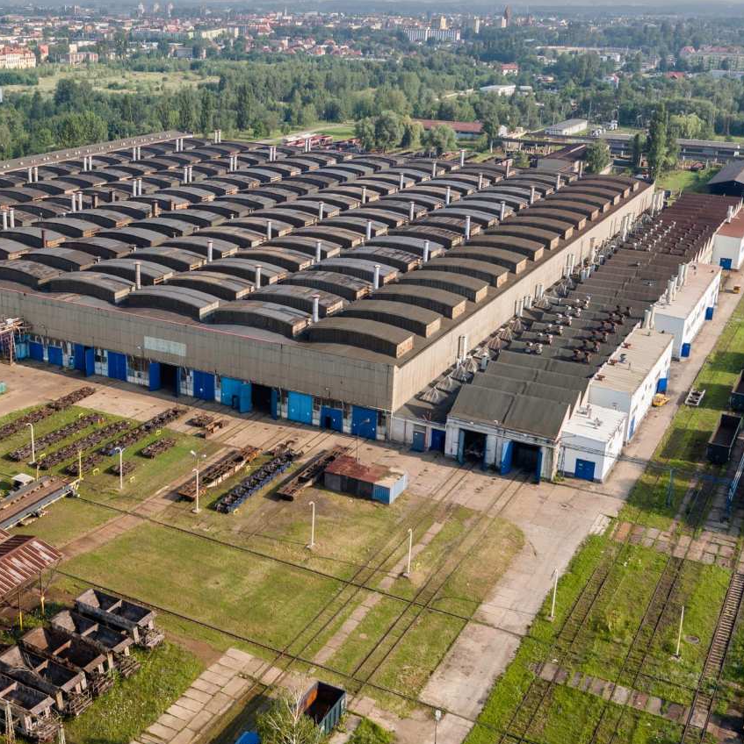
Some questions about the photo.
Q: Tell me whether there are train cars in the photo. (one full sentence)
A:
Yes, the picture does show a train car.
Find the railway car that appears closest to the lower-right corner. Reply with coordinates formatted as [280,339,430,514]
[705,414,742,465]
